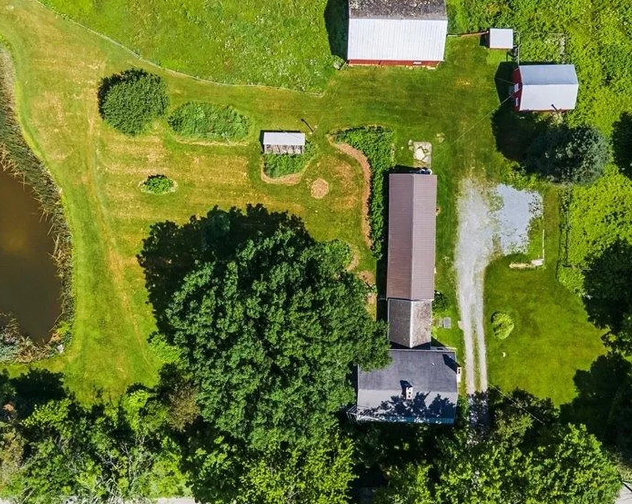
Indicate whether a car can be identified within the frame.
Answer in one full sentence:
No, no car is visible in the scene.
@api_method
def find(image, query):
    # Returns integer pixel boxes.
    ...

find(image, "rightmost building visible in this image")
[504,64,580,114]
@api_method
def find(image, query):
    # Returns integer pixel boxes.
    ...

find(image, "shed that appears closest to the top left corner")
[263,132,305,153]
